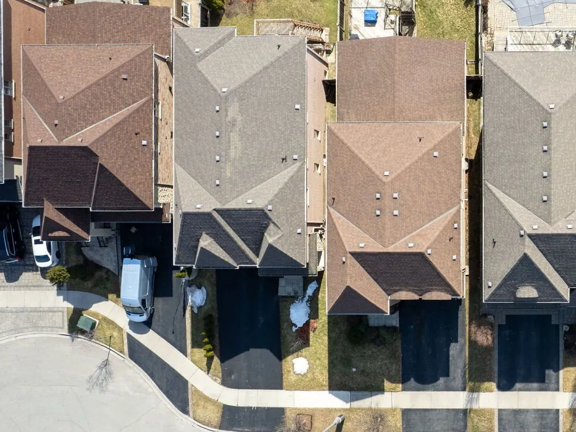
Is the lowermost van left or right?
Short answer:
left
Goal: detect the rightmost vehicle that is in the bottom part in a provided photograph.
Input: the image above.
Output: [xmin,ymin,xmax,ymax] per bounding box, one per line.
[119,252,160,322]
